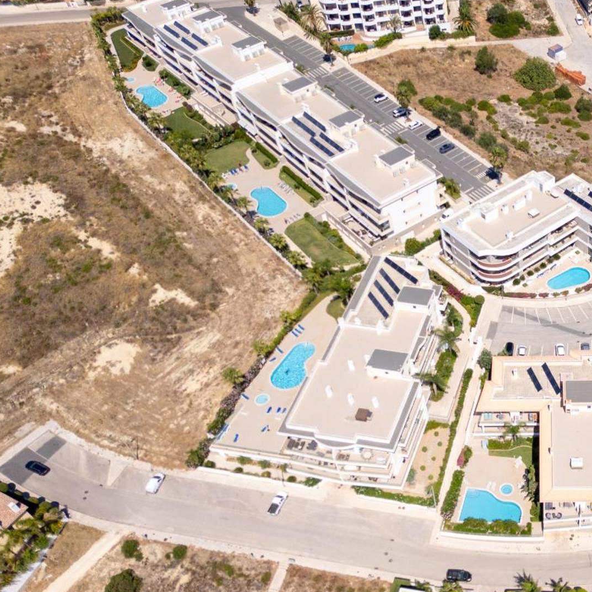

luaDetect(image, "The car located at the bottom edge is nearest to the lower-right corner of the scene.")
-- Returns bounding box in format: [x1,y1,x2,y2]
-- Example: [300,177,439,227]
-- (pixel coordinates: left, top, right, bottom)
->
[445,566,474,583]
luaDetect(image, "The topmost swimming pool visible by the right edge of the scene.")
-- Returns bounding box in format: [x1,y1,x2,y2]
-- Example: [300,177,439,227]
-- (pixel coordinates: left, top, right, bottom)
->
[546,266,592,291]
